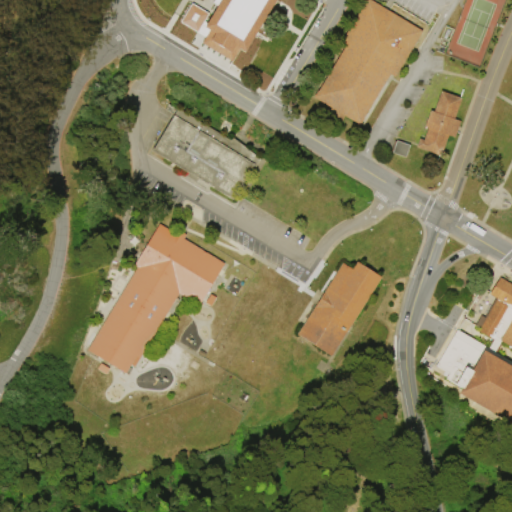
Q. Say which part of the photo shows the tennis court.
top right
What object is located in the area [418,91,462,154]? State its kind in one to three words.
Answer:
house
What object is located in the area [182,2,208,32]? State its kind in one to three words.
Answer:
building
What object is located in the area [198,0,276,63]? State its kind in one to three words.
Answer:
building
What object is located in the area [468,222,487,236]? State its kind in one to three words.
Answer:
vehicle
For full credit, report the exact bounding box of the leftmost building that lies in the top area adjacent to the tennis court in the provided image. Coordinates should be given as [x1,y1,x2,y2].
[318,0,422,123]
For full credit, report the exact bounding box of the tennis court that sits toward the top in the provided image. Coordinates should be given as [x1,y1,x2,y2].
[448,0,506,66]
